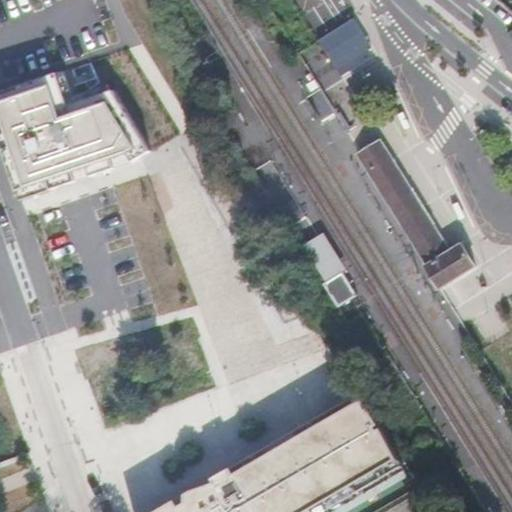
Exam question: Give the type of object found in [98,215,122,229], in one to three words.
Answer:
car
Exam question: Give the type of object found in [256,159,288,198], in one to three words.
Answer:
shed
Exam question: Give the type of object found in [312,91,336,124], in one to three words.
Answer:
building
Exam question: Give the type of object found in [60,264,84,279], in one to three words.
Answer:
car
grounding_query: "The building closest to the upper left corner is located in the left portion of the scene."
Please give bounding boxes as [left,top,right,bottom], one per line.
[0,72,152,200]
